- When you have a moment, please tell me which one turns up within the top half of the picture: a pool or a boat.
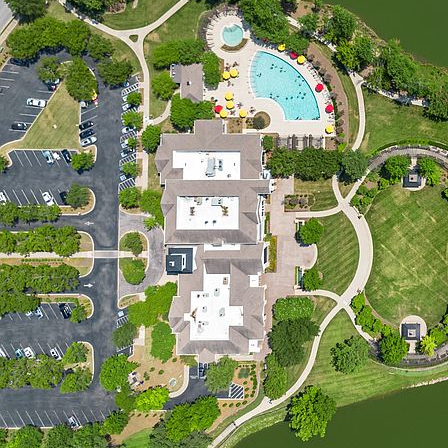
pool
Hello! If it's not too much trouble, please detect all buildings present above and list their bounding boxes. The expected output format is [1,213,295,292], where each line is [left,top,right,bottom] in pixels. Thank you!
[156,121,278,362]
[171,63,206,101]
[403,168,423,187]
[401,320,422,340]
